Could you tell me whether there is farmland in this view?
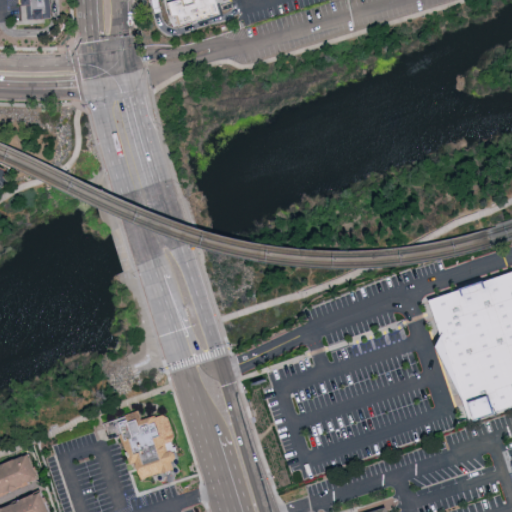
No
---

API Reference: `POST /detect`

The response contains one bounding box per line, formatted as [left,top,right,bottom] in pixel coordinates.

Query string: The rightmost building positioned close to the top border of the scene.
[165,0,222,29]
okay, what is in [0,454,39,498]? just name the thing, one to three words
building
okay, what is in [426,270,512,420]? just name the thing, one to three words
building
